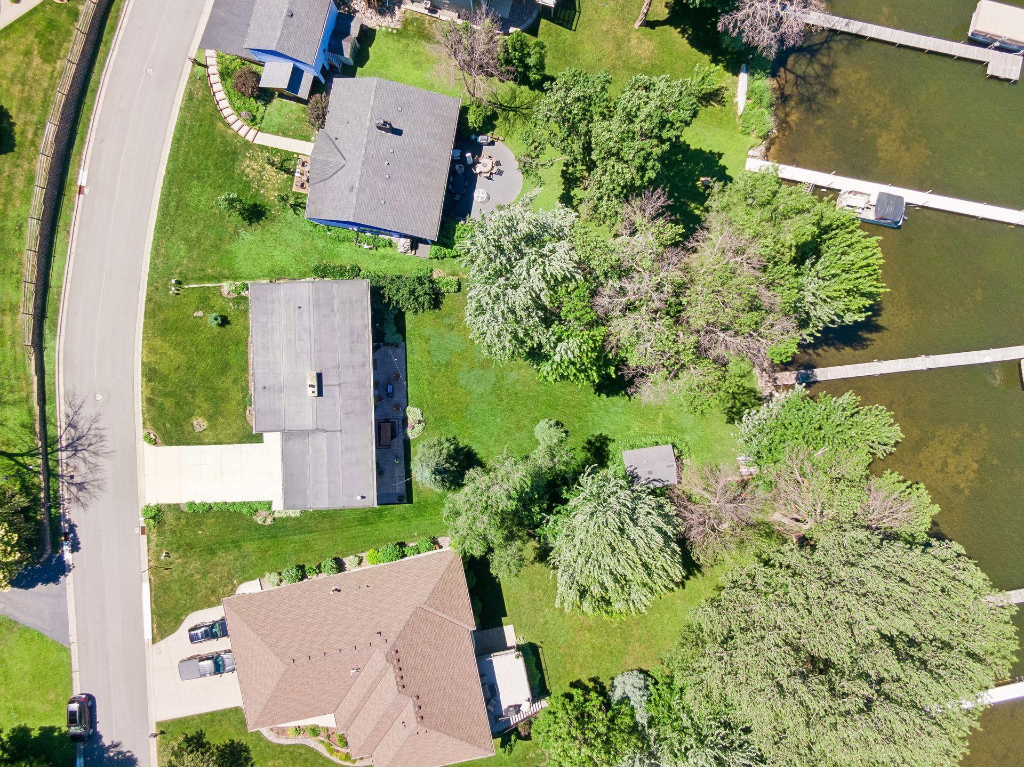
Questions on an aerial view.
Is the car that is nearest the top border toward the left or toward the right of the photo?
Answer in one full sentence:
It is on the left.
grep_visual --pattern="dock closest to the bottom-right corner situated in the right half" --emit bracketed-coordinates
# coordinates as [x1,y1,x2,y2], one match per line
[945,680,1024,713]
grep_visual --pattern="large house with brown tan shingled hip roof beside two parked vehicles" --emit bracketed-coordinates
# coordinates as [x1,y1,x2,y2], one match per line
[221,547,496,767]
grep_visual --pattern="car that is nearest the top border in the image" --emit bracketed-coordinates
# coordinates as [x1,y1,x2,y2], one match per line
[189,620,229,646]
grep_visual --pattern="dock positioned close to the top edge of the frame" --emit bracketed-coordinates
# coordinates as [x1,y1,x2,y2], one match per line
[805,11,1024,83]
